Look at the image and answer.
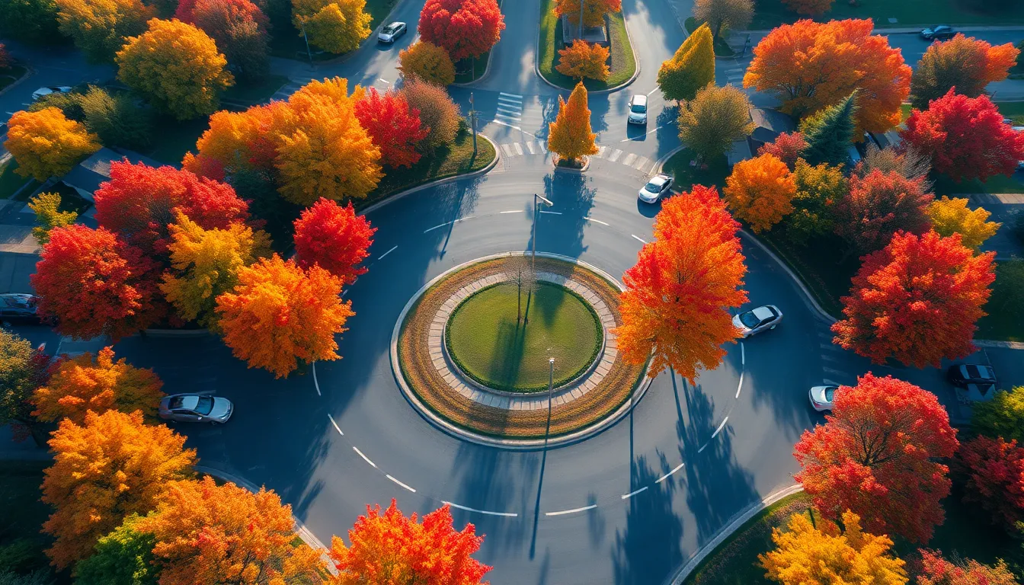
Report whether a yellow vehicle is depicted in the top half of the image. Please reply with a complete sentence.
No, no yellow vehicle is visible in the top half of the image.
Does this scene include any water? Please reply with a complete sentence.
No, no water is visible.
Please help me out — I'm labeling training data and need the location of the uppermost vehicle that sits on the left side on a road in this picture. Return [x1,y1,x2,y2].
[378,22,406,44]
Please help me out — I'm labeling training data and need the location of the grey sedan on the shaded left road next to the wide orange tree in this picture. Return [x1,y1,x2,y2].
[156,392,236,427]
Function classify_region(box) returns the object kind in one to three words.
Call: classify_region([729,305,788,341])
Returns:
car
